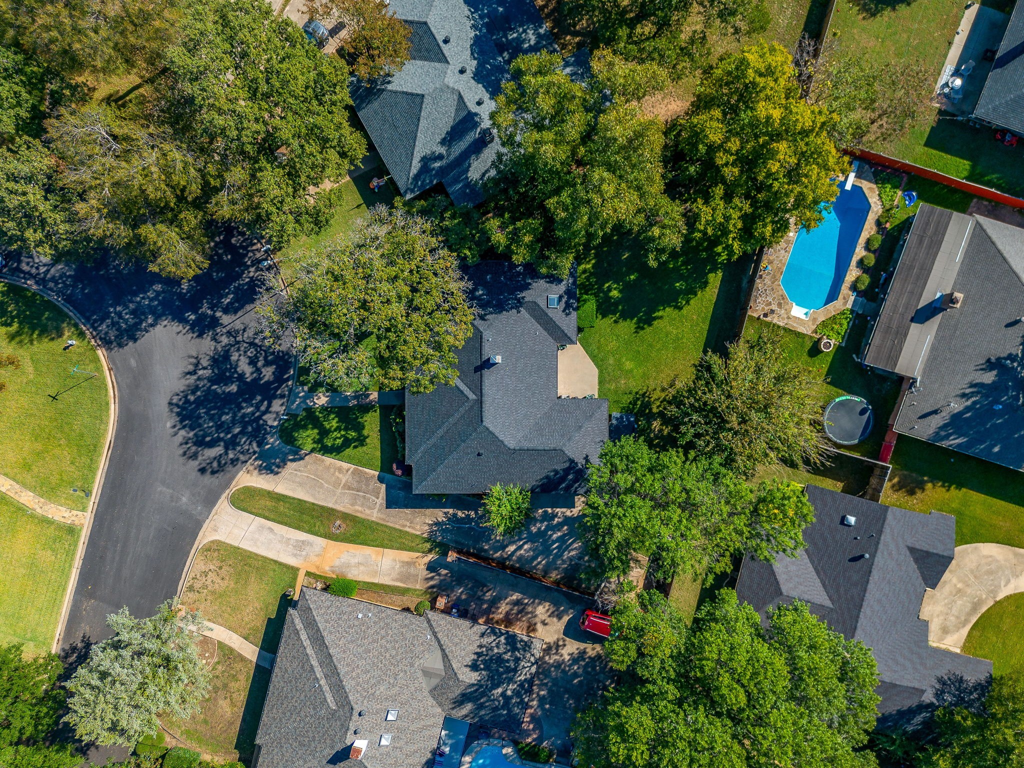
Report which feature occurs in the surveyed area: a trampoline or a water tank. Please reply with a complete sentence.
There is a trampoline in the scene.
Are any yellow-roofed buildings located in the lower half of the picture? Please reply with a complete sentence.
No, looking in the lower half of the picture, there is no yellow-roofed building.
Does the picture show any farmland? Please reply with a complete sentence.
No, there's no farmland in this view.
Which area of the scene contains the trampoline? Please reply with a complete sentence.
The trampoline is located in the right region of the scene.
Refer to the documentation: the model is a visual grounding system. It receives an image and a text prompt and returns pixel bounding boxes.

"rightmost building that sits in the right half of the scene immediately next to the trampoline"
[890,217,1024,474]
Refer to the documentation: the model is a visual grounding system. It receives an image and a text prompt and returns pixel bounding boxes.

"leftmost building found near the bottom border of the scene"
[255,584,546,768]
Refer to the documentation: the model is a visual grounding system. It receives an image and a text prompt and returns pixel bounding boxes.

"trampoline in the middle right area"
[822,395,876,446]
